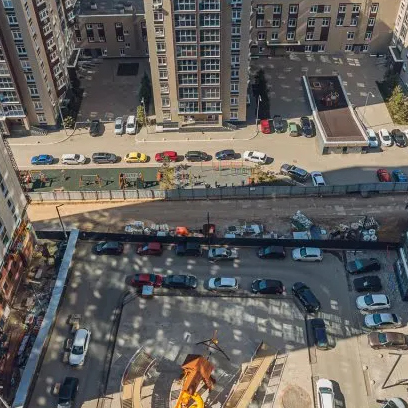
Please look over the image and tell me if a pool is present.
No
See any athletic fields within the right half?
No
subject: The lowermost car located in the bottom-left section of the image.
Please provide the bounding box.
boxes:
[55,377,82,408]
